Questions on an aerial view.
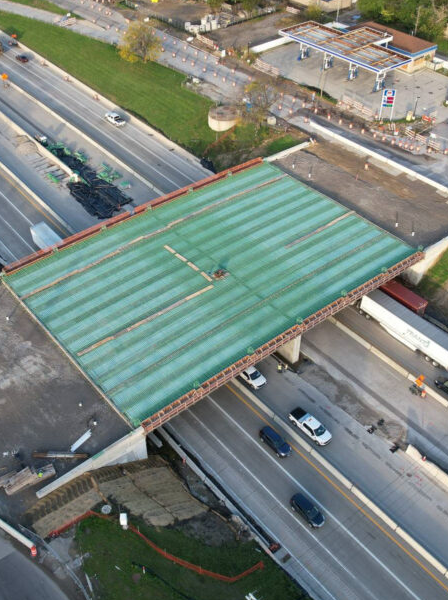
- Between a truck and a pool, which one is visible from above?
truck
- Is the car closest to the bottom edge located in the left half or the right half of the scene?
right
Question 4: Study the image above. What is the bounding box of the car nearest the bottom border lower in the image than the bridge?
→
[283,489,330,536]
